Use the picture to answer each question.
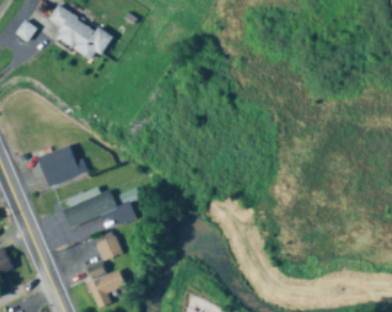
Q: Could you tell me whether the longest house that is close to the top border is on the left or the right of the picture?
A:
left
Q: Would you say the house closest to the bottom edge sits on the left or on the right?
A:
left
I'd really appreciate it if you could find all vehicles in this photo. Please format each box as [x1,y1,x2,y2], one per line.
[88,258,100,264]
[36,41,48,50]
[29,158,38,169]
[8,306,14,312]
[24,281,39,292]
[103,220,116,228]
[72,273,88,282]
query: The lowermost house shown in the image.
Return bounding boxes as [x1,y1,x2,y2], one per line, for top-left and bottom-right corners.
[87,269,126,308]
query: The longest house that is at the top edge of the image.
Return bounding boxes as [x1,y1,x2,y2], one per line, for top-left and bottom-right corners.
[50,6,111,58]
